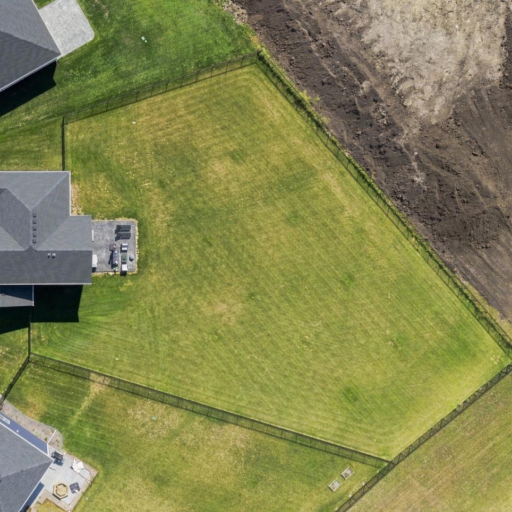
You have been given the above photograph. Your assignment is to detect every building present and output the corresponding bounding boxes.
[0,0,63,92]
[0,170,98,307]
[0,413,56,512]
